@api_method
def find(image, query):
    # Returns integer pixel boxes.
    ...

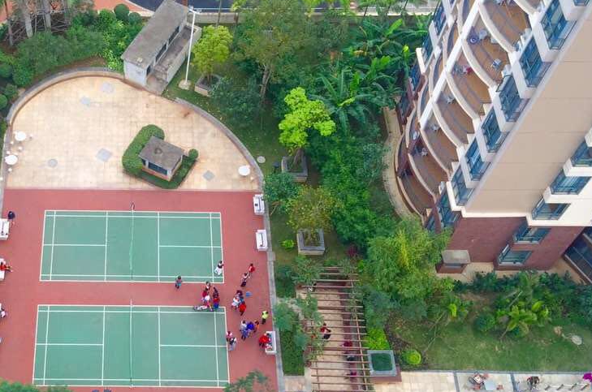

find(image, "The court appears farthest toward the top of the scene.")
[40,200,224,283]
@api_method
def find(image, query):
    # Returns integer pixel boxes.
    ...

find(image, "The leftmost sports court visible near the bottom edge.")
[32,296,229,388]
